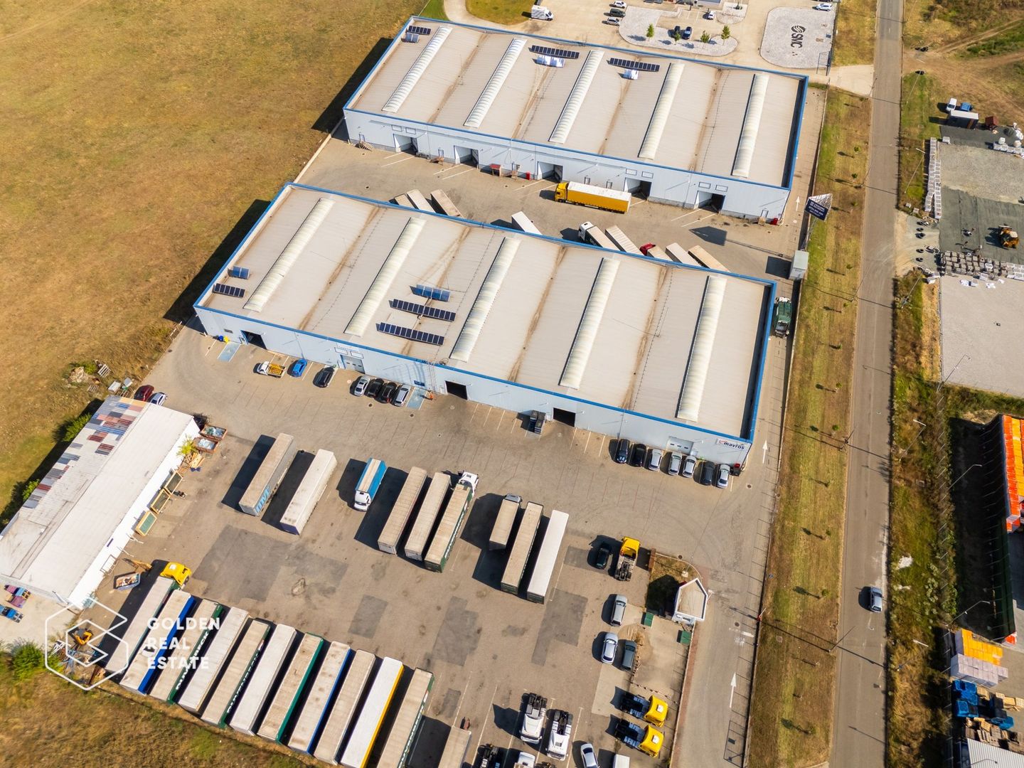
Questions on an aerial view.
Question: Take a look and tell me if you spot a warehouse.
Yes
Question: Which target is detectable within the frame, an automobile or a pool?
automobile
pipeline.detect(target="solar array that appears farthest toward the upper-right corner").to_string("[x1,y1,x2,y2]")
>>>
[608,58,659,74]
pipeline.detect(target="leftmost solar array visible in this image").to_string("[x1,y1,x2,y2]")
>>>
[213,284,245,300]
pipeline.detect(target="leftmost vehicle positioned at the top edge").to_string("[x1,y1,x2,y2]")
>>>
[530,2,553,19]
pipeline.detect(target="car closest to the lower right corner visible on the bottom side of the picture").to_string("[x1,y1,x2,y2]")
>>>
[868,586,885,615]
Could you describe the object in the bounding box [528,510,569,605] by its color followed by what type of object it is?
white trailer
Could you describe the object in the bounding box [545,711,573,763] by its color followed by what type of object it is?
white truck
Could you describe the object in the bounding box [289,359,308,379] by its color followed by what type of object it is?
blue car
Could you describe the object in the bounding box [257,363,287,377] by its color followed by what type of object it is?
white vehicle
